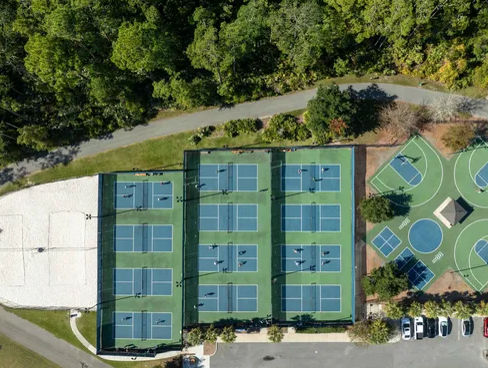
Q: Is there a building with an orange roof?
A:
No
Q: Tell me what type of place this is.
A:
sports ground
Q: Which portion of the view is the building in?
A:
right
